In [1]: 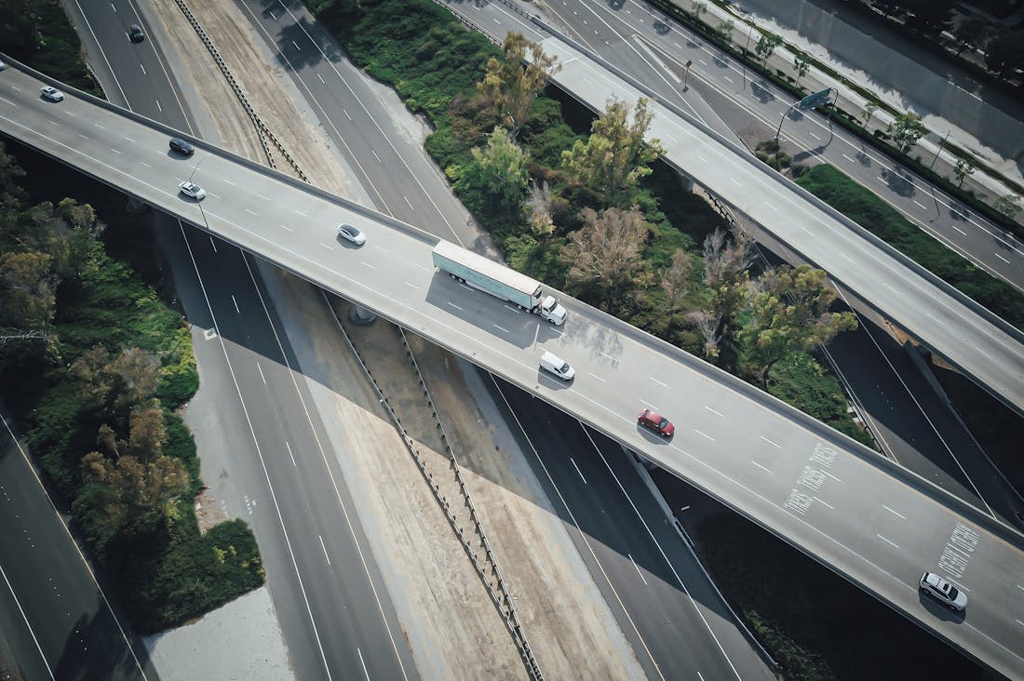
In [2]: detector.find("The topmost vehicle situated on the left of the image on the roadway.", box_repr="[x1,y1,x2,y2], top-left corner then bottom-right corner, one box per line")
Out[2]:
[129,23,144,39]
